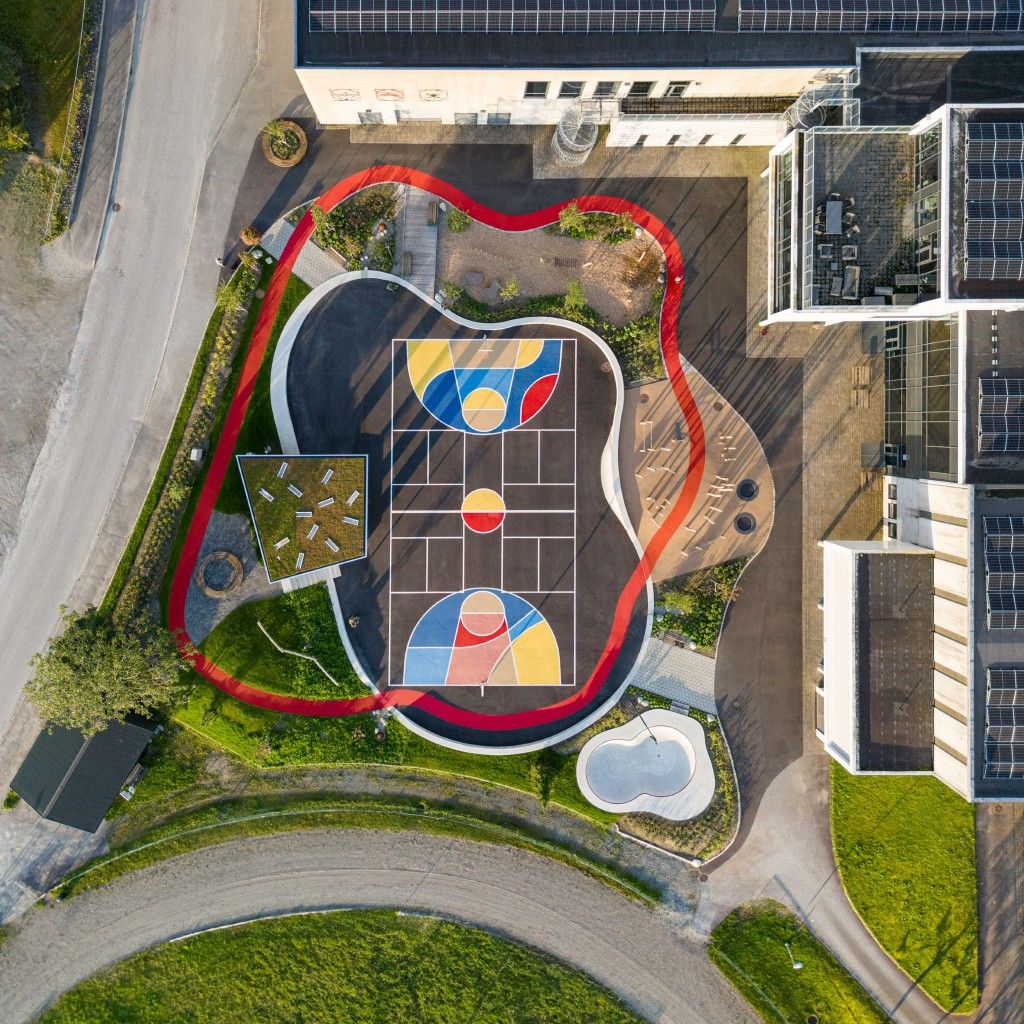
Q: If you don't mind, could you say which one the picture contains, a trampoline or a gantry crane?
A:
trampoline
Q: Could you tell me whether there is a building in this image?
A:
Yes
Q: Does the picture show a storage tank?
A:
No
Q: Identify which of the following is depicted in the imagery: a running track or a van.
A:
running track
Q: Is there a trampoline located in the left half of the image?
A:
No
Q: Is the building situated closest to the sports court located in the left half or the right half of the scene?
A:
left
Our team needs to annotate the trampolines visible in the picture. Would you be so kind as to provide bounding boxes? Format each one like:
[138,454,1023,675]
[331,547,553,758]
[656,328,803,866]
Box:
[734,512,756,534]
[737,479,759,501]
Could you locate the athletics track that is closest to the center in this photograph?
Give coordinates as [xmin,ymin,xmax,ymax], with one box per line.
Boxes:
[167,163,705,731]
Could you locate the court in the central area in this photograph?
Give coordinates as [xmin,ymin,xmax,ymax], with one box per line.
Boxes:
[389,339,577,686]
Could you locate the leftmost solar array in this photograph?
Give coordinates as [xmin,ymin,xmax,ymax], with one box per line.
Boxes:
[307,0,720,33]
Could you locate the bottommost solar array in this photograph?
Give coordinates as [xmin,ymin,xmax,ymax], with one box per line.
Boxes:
[986,670,1024,780]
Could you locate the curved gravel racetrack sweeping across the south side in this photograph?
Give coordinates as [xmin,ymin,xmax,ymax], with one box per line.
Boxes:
[0,829,763,1024]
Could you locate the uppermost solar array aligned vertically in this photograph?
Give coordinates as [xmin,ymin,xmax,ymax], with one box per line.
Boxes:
[966,123,1024,279]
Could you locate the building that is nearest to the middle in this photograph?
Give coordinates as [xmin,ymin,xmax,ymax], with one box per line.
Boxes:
[237,455,368,595]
